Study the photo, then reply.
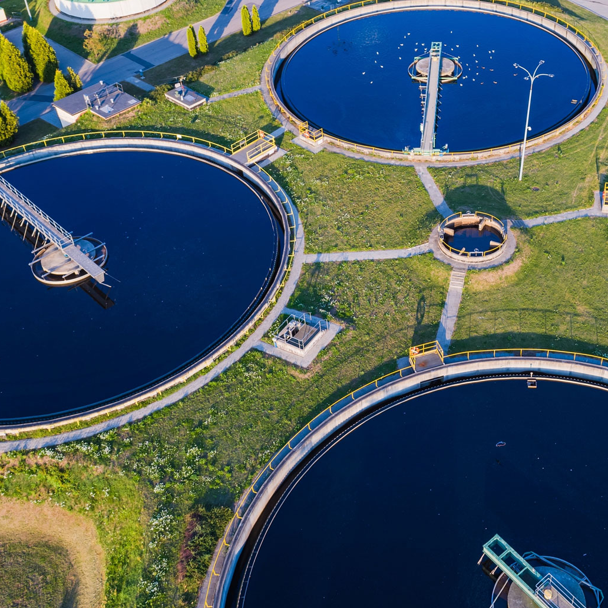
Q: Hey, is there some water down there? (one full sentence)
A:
Yes, water can be seen from above here.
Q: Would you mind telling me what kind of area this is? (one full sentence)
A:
This image shows an industrial area.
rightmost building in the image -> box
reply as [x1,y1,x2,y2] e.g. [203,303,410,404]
[165,71,207,113]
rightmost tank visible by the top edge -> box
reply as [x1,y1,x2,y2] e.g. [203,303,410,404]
[269,0,605,164]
